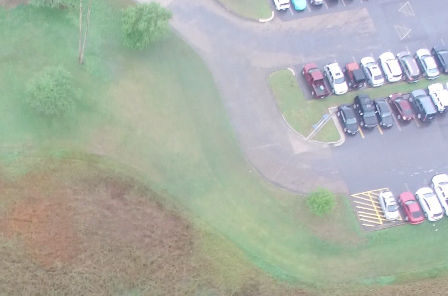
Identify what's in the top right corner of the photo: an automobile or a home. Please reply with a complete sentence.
The feature located in the top right corner of the photo is an automobile.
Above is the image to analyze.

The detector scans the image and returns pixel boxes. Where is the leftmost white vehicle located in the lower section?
[375,188,401,222]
